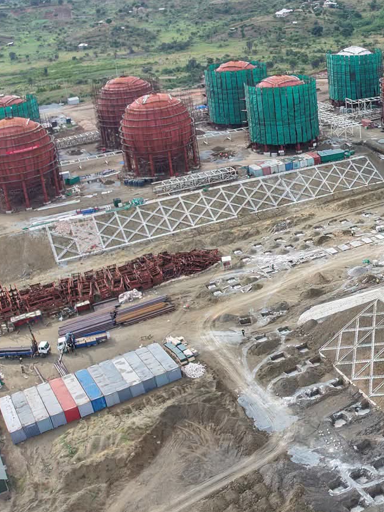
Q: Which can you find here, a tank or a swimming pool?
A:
tank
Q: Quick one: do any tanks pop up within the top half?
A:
Yes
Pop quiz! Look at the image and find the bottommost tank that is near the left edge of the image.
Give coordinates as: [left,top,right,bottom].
[0,114,63,209]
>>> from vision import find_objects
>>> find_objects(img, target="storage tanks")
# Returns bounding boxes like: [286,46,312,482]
[119,89,199,177]
[92,75,156,147]
[0,114,63,209]
[0,92,39,127]
[245,72,319,152]
[326,45,383,107]
[204,60,265,128]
